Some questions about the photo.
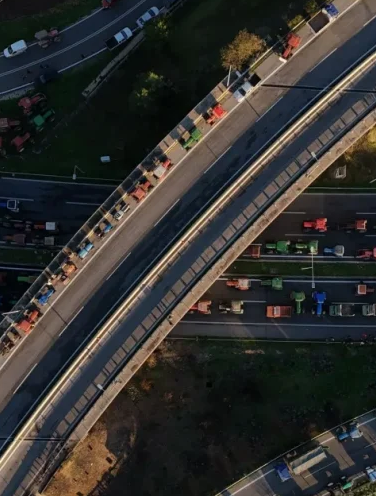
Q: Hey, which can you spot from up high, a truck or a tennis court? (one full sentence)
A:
Visible in the photo is a truck.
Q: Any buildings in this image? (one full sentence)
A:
No, this view has no building in it.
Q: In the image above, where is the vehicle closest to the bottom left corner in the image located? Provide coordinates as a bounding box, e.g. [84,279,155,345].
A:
[1,329,22,350]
